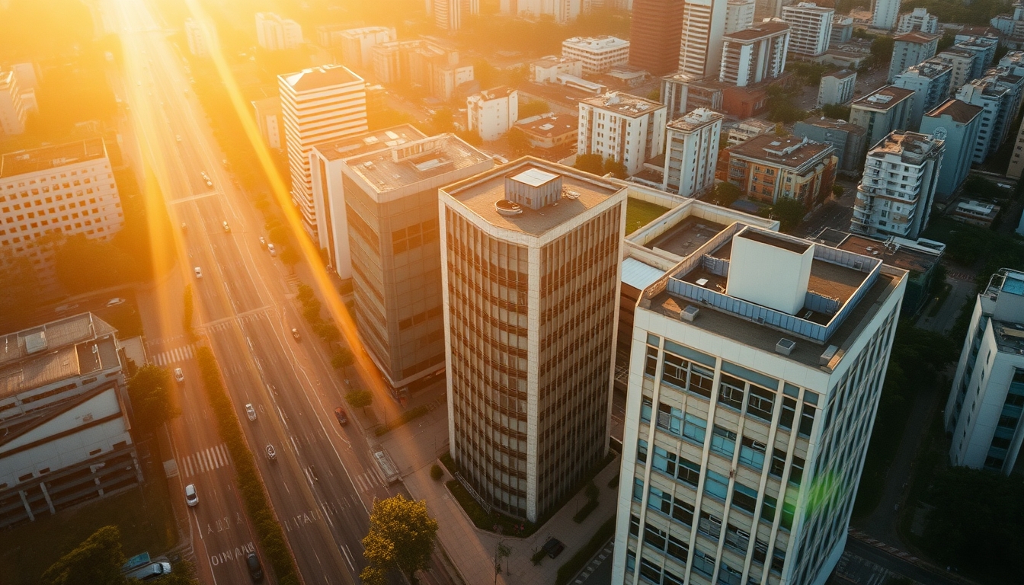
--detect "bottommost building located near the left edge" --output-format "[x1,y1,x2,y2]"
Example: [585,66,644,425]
[0,305,148,522]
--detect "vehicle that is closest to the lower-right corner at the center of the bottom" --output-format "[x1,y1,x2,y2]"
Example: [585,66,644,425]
[539,539,563,559]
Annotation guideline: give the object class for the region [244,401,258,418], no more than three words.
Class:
car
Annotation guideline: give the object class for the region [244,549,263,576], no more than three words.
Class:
car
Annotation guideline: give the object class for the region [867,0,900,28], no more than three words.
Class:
building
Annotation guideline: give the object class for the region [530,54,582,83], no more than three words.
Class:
house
